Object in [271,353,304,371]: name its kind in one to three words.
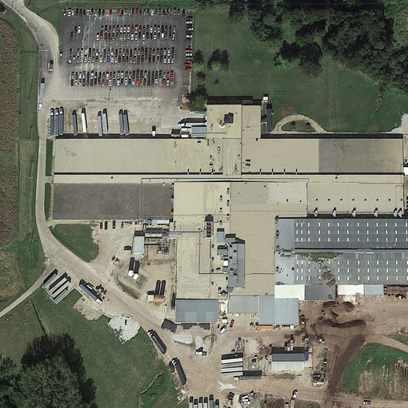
building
